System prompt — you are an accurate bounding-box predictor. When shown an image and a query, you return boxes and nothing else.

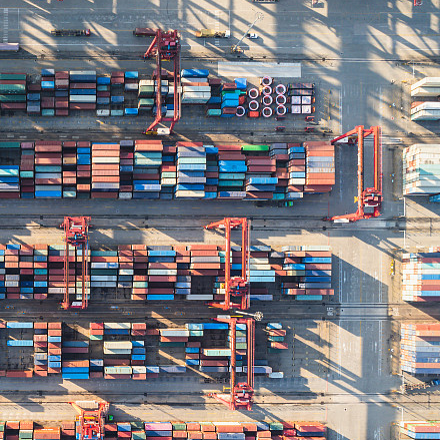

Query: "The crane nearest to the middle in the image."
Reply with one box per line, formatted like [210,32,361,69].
[202,214,249,312]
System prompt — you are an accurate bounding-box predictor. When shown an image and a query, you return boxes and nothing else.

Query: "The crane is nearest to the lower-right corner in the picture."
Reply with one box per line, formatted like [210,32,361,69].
[207,317,256,411]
